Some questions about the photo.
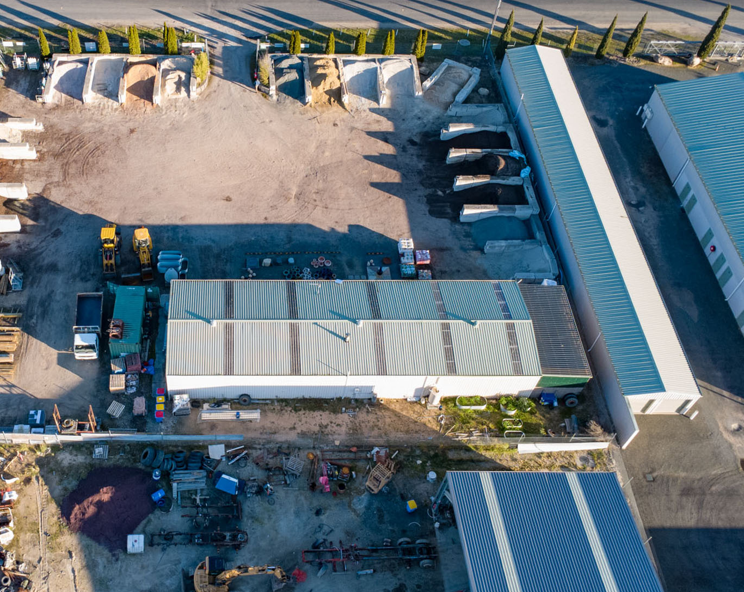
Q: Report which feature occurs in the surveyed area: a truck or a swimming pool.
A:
truck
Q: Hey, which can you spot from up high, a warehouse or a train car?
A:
warehouse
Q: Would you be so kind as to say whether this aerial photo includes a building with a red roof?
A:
No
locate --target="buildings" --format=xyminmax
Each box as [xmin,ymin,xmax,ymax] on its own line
[166,274,543,400]
[420,469,667,592]
[643,74,744,337]
[501,46,704,447]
